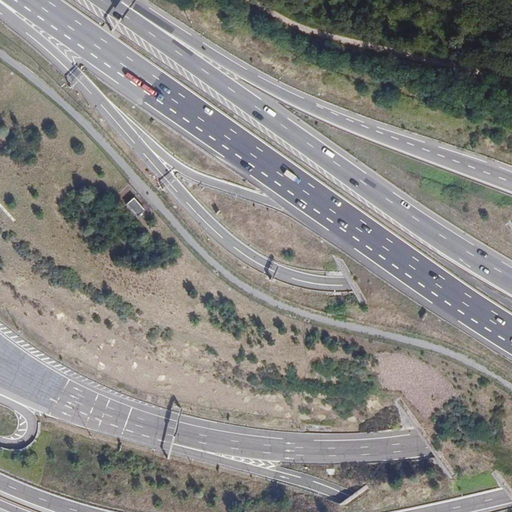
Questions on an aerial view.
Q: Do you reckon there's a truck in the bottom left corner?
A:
No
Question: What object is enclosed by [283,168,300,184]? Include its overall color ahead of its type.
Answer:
white vehicle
